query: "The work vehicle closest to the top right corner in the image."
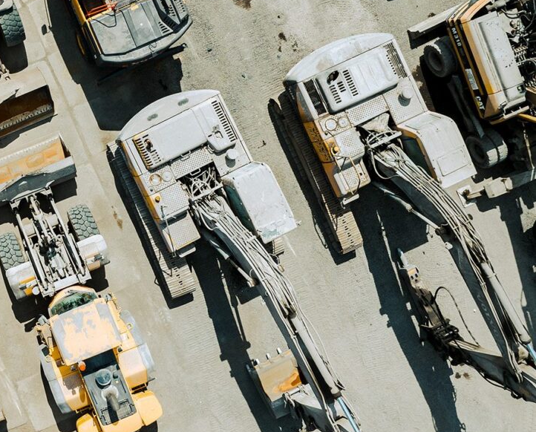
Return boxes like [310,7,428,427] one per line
[403,0,536,206]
